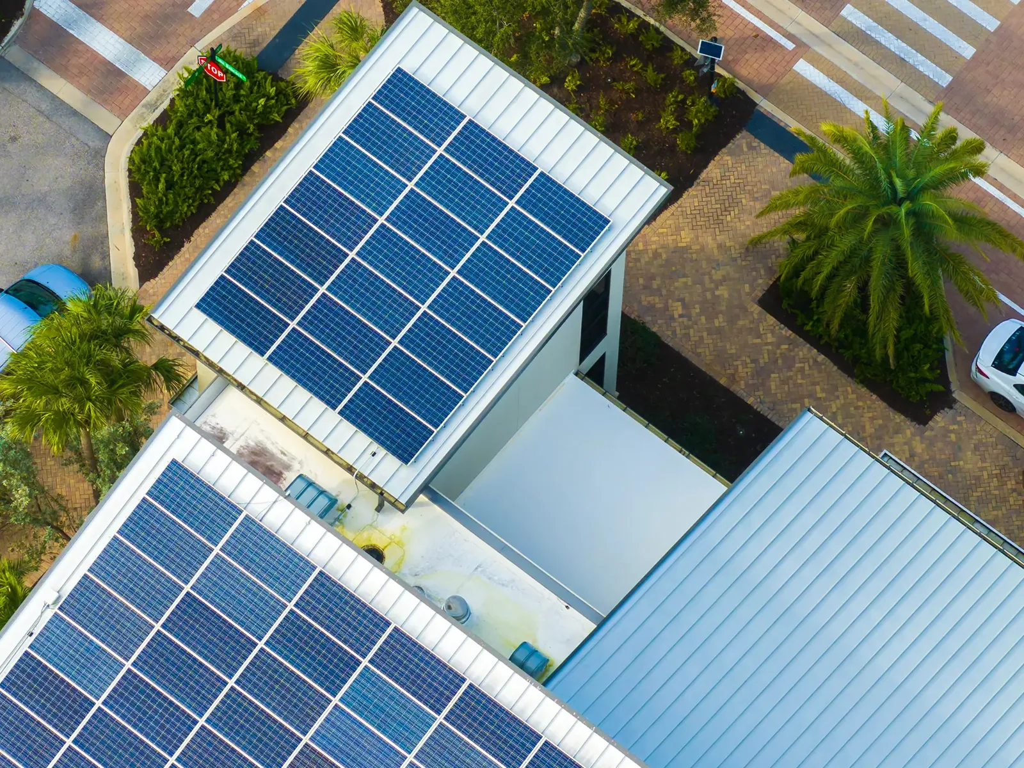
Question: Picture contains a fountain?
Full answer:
No, there appears to be no fountain in this shot.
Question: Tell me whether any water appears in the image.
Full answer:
No, there's no water in this view.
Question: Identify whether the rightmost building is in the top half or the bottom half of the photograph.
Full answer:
You can find the rightmost building in the bottom half.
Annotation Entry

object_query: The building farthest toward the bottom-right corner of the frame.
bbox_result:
[543,405,1024,768]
